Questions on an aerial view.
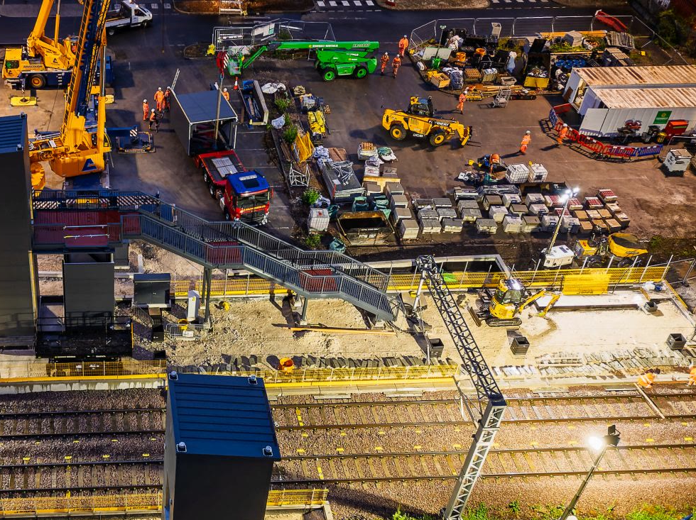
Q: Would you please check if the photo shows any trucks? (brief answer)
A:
Yes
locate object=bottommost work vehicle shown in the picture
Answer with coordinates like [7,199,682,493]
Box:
[463,274,560,323]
